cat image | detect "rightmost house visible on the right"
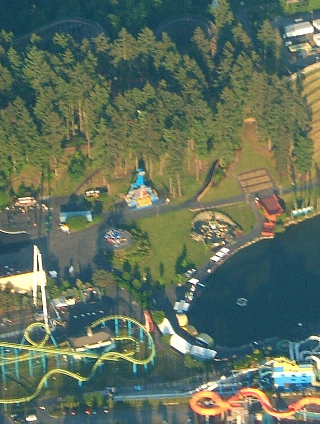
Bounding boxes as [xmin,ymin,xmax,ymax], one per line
[272,360,317,391]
